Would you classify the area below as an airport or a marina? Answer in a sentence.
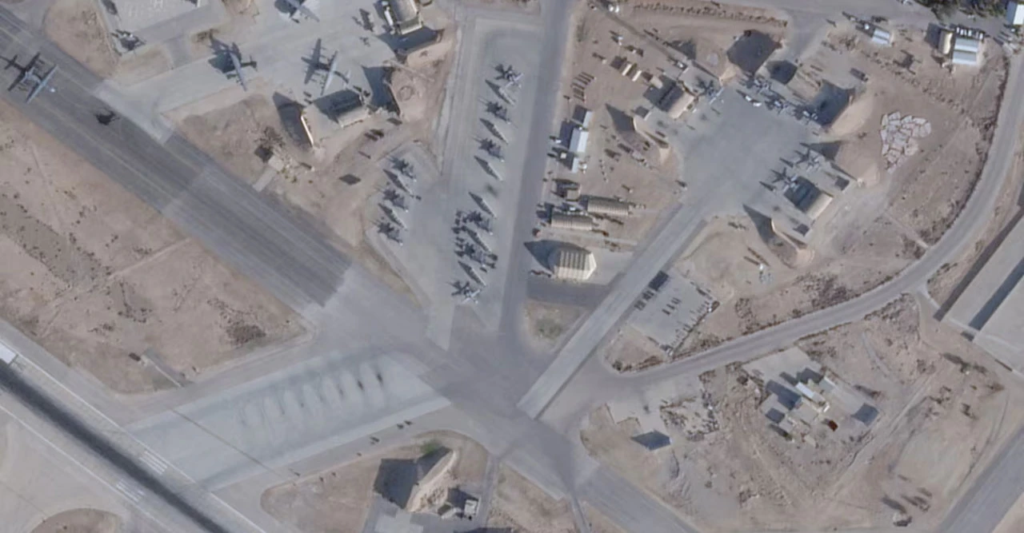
The area seen from above is an airport.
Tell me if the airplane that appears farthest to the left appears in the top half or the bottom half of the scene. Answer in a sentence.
The top half of the photo is where the airplane that appears farthest to the left is.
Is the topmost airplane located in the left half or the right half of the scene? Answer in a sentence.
The topmost airplane sits on the left side.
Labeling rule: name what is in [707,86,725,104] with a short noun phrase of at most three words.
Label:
airplane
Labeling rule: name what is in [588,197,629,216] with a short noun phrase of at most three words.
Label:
tent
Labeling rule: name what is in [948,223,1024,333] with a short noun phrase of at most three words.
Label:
building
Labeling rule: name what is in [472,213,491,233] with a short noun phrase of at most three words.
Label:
airplane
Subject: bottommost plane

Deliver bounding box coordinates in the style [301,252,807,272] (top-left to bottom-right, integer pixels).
[463,287,481,305]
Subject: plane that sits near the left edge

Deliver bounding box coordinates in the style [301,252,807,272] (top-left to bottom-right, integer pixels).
[19,63,58,103]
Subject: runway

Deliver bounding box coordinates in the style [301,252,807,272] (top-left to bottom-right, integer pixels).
[0,338,265,533]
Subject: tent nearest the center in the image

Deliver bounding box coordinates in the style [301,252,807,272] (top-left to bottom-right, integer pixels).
[551,211,592,230]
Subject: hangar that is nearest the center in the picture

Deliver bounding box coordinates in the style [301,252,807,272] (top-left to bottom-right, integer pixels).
[549,246,596,284]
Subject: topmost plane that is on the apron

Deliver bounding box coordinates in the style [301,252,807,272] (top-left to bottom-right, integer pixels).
[285,0,319,22]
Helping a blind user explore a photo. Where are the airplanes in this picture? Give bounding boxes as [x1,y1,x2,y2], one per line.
[472,213,491,233]
[782,174,801,192]
[381,225,401,244]
[225,48,260,94]
[804,110,822,128]
[386,192,406,211]
[285,0,319,22]
[394,161,414,180]
[482,141,502,160]
[19,63,58,103]
[489,103,509,123]
[707,86,725,104]
[317,49,352,96]
[504,70,522,88]
[463,246,484,267]
[463,287,481,305]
